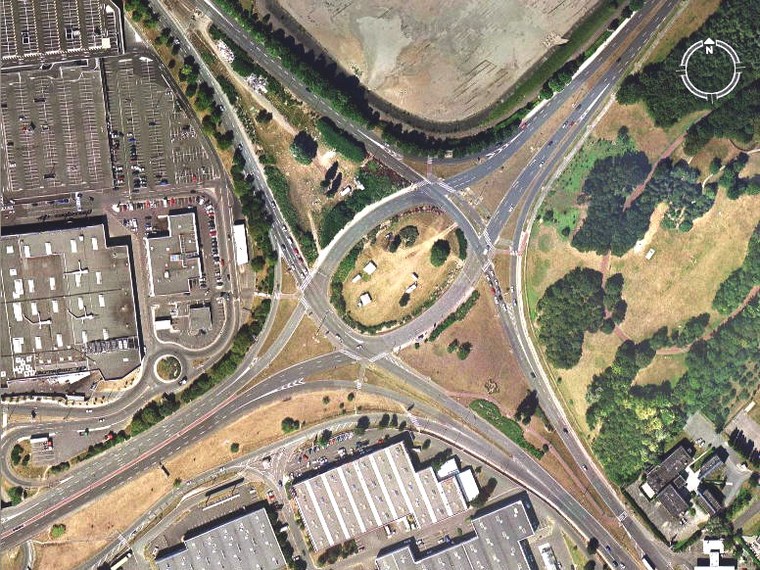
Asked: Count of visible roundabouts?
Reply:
2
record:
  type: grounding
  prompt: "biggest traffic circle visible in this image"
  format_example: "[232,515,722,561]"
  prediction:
[304,181,489,361]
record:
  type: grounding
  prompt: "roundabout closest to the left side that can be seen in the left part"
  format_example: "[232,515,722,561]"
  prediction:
[143,344,192,393]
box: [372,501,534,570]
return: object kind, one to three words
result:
building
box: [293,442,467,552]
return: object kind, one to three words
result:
building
